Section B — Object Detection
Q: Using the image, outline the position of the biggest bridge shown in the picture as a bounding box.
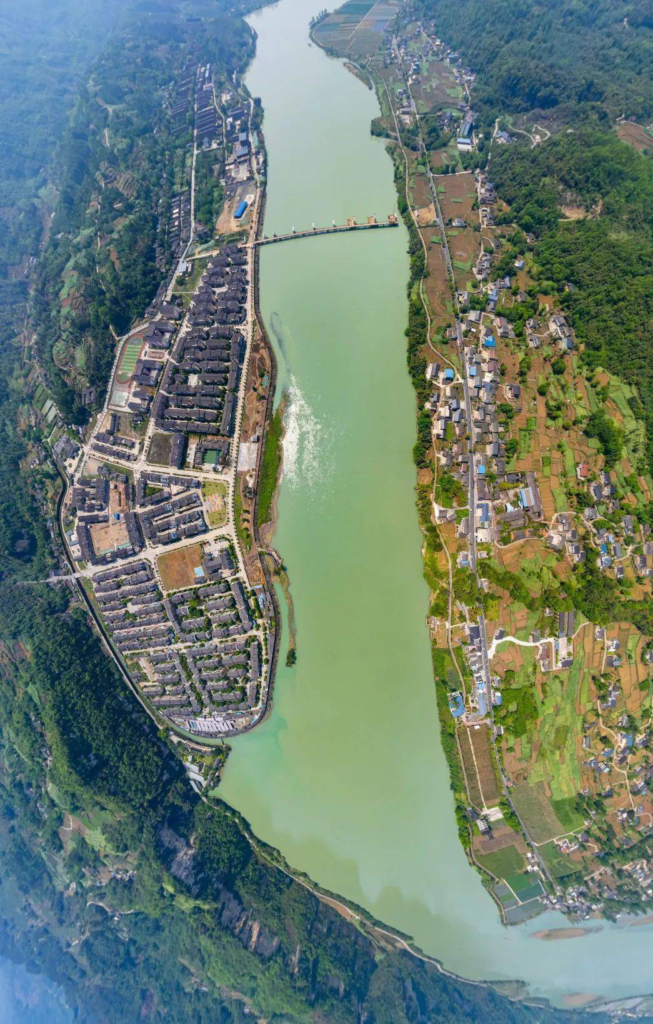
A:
[251,219,400,249]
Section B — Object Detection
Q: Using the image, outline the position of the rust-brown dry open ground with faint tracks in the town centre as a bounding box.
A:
[156,543,205,589]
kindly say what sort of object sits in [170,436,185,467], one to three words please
building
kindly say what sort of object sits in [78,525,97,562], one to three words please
building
